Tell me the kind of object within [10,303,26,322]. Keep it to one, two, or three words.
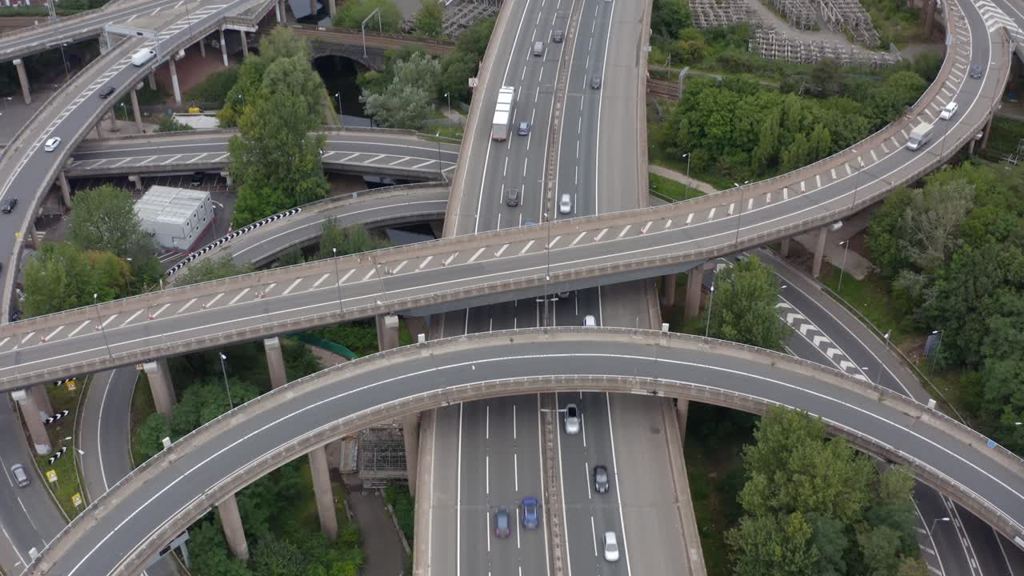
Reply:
car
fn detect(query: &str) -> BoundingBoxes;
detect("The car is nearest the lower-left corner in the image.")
[10,463,31,489]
